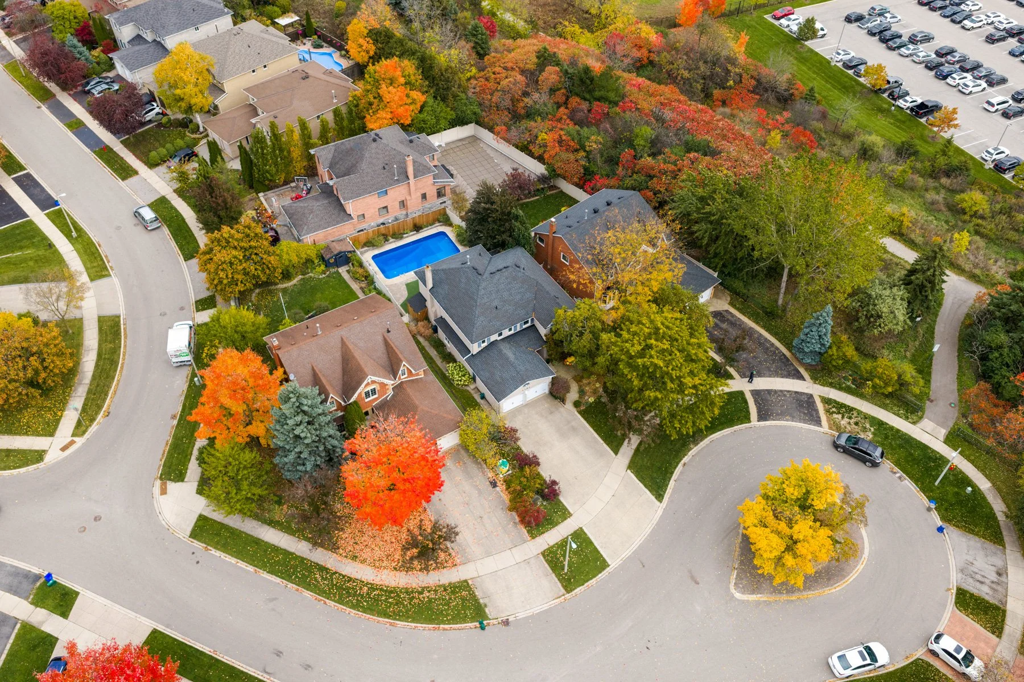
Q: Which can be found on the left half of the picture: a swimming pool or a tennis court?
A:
swimming pool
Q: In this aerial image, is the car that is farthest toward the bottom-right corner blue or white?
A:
white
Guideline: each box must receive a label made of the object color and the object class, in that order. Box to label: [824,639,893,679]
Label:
white car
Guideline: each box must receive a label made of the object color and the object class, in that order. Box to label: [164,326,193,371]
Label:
white truck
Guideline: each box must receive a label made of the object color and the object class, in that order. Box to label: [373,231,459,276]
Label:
blue swimming pool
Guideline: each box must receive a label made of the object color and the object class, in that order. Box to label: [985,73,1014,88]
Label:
gray car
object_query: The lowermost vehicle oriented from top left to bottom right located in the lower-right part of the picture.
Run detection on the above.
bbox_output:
[921,623,990,682]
